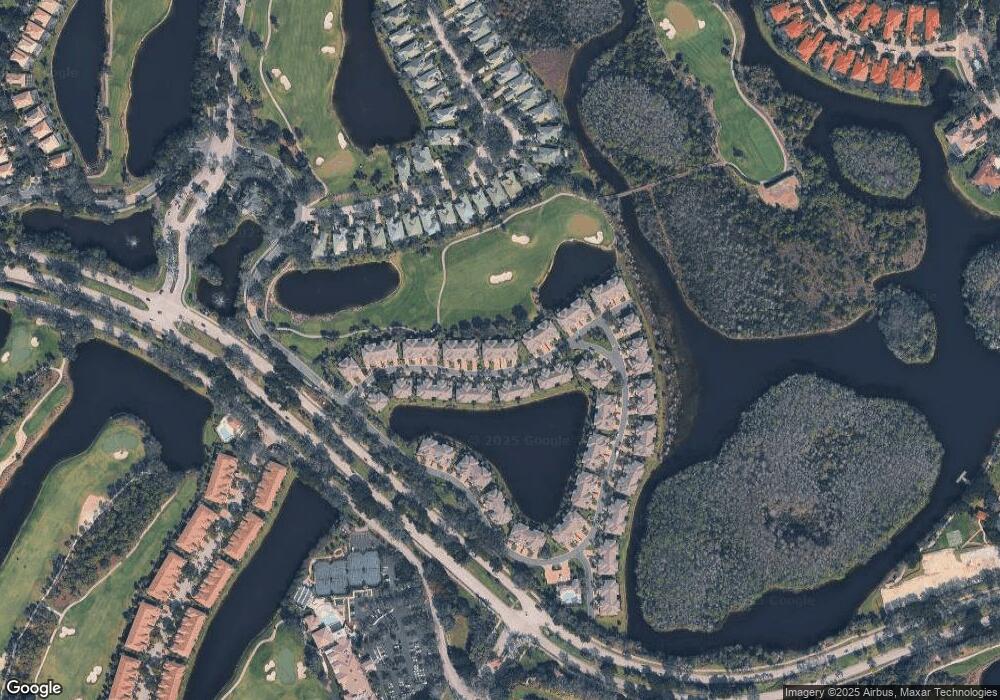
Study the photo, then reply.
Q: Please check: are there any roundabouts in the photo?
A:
Yes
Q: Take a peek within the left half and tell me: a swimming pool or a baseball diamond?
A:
swimming pool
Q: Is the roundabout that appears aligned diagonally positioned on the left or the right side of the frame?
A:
left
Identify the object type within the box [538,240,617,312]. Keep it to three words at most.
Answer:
pond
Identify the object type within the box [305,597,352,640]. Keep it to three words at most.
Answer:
swimming pool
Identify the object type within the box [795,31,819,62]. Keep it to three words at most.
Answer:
house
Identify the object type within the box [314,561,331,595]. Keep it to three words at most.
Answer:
tennis court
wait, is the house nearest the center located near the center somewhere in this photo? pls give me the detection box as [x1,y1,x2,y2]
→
[481,338,519,363]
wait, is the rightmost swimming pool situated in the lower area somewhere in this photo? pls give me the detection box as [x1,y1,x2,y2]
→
[559,587,582,605]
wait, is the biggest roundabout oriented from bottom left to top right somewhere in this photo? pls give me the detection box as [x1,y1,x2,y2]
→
[164,168,226,236]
